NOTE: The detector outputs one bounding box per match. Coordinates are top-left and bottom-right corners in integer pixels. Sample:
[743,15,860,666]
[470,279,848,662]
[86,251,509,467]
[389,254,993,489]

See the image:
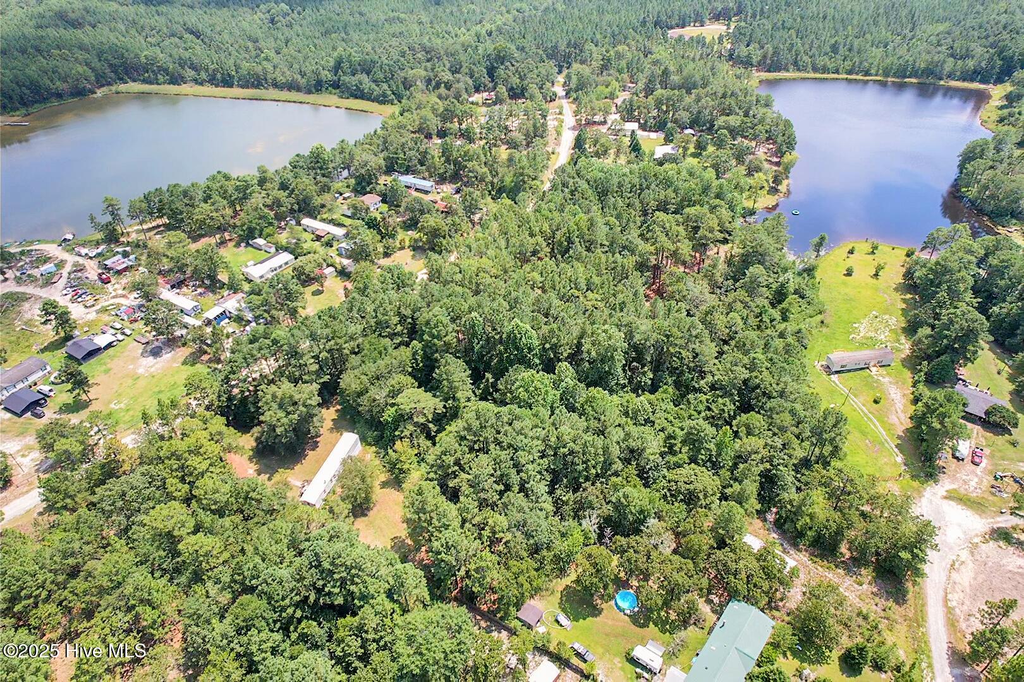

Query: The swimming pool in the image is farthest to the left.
[613,591,639,620]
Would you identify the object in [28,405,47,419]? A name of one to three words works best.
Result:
car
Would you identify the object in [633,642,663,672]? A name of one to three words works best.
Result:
vehicle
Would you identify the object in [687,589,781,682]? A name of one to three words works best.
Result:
house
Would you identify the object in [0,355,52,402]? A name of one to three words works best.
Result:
house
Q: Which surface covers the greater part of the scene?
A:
trees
